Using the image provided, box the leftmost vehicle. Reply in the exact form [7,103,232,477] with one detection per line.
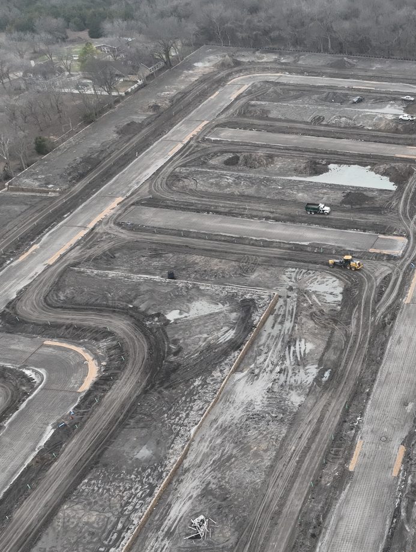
[303,204,334,216]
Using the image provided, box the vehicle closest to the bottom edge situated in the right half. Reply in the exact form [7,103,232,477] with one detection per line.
[326,256,364,272]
